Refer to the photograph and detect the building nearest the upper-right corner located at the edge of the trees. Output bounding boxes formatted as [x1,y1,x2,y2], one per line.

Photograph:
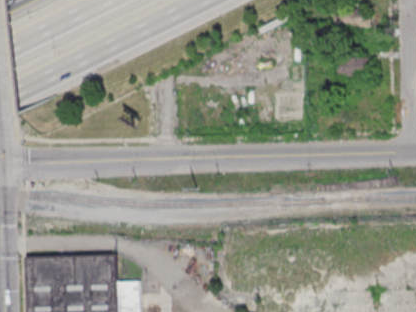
[342,12,374,30]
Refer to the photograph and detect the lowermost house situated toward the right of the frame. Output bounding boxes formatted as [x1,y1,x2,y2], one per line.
[338,56,371,77]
